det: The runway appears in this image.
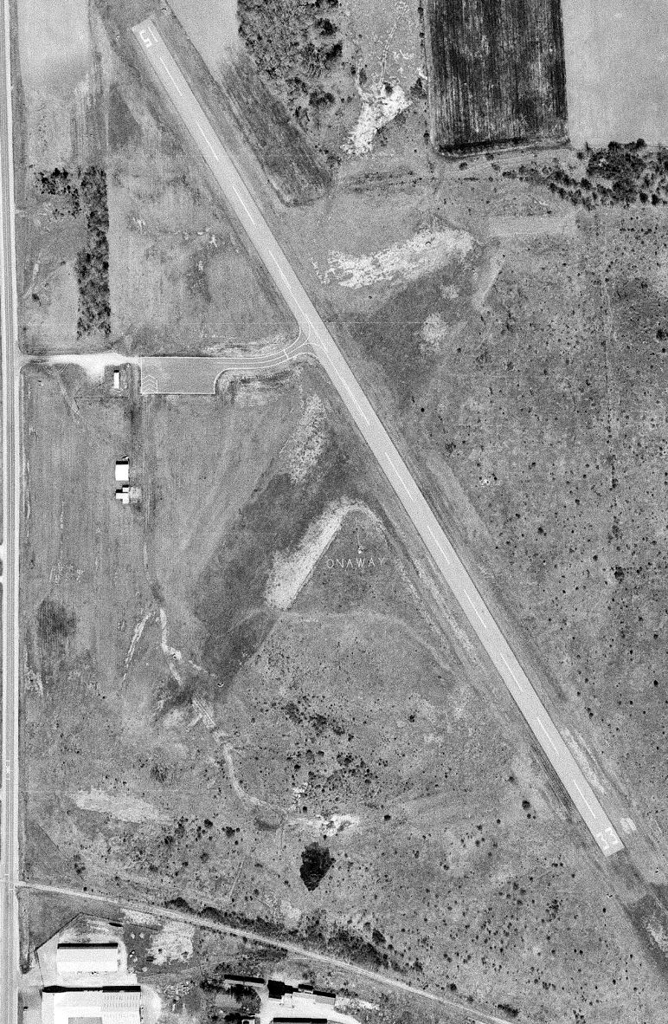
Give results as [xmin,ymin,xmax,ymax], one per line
[132,18,624,856]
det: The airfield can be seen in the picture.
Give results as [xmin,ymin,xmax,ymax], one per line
[132,18,624,856]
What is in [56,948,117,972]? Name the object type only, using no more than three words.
building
